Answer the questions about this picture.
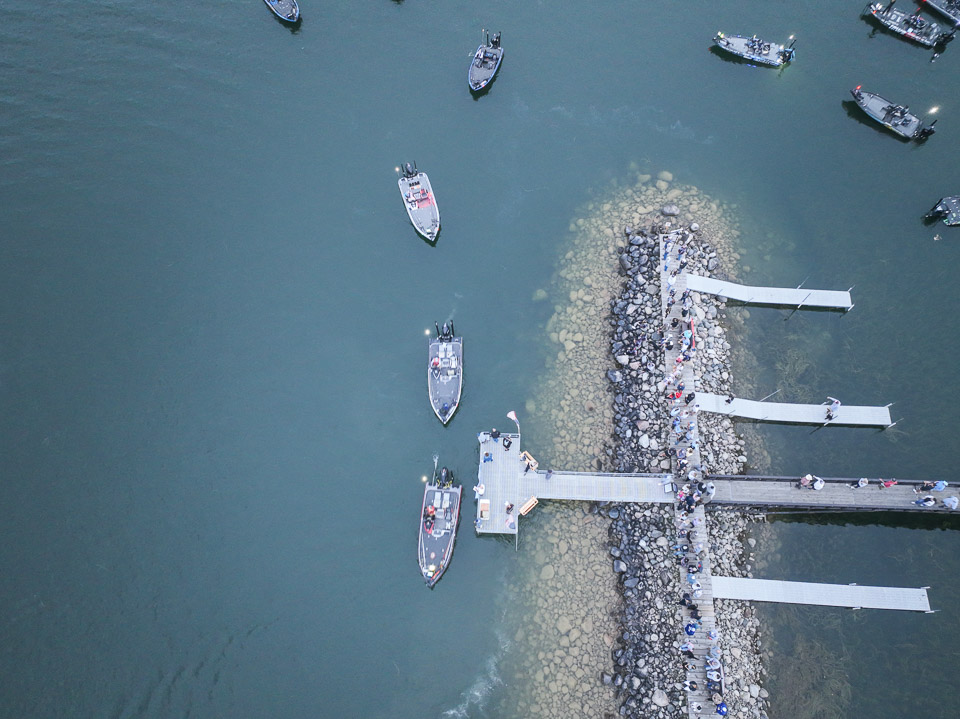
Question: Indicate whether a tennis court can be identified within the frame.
No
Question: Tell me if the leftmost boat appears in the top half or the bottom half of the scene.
top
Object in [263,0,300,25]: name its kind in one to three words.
boat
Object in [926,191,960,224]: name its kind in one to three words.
boat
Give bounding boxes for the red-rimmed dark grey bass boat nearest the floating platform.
[420,469,460,587]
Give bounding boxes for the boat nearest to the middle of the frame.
[428,322,462,424]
